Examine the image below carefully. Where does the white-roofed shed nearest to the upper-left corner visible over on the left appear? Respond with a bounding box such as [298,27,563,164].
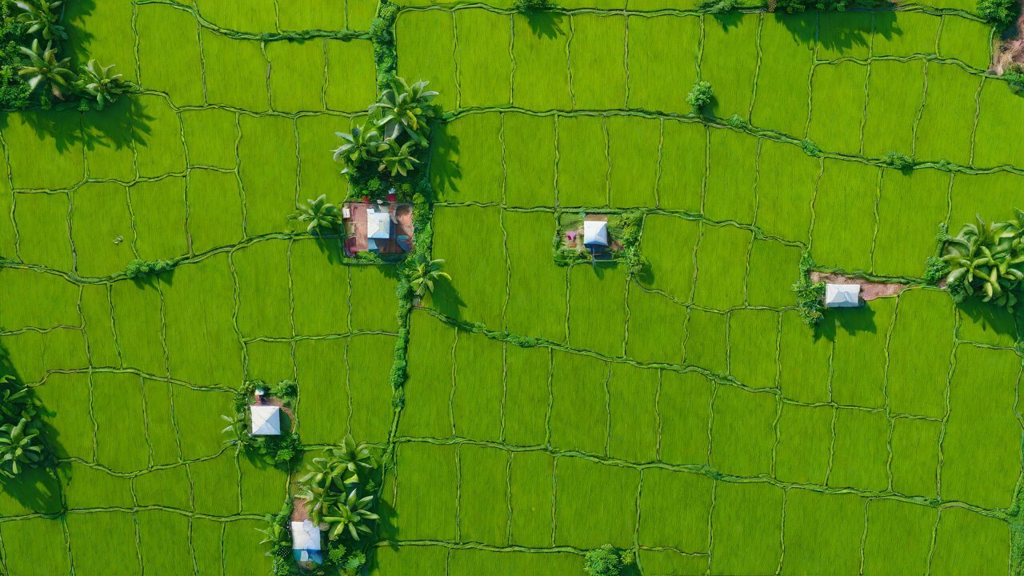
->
[367,209,389,249]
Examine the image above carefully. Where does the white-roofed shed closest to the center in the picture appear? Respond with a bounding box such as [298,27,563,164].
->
[584,221,608,248]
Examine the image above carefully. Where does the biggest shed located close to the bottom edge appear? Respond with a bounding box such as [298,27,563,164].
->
[292,521,323,563]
